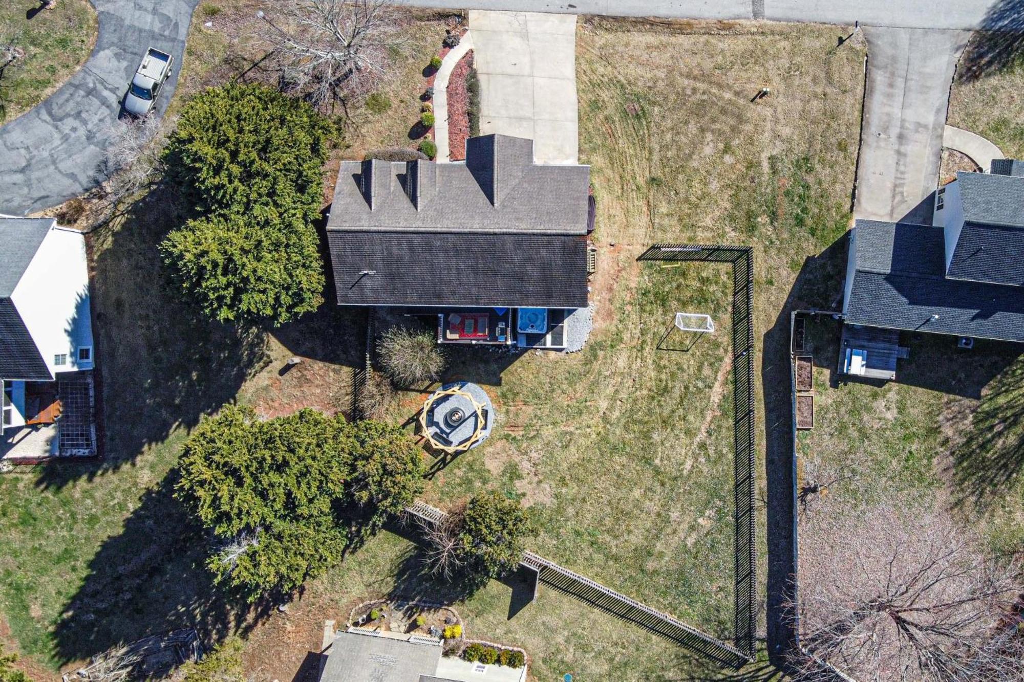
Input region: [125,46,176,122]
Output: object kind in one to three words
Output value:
truck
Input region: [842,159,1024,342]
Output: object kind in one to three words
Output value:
house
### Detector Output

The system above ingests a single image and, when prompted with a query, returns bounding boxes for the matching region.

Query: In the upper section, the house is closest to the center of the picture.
[327,133,590,308]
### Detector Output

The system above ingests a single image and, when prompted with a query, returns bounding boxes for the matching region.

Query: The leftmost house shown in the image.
[0,215,94,435]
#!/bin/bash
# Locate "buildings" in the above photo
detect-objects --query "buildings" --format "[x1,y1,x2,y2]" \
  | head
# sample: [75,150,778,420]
[324,616,527,682]
[0,215,94,435]
[842,159,1024,342]
[327,133,590,308]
